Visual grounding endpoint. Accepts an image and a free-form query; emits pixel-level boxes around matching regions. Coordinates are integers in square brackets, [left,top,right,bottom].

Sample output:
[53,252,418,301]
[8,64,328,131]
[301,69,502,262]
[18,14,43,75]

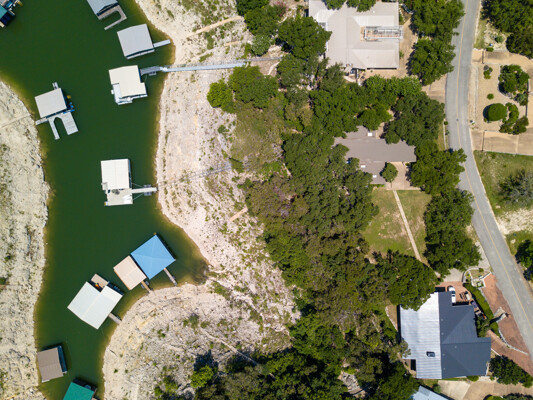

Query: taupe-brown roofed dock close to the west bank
[37,344,68,384]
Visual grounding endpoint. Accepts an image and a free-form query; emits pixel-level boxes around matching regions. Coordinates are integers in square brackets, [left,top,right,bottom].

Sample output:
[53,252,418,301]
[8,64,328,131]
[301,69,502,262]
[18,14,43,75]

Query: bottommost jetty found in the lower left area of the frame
[65,377,100,400]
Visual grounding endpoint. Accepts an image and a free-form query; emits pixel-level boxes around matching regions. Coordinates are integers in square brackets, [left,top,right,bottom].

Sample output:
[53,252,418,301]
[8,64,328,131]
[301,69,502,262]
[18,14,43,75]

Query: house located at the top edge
[308,0,404,77]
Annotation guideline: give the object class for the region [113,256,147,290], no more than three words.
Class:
pier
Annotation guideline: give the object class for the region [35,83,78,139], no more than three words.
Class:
pier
